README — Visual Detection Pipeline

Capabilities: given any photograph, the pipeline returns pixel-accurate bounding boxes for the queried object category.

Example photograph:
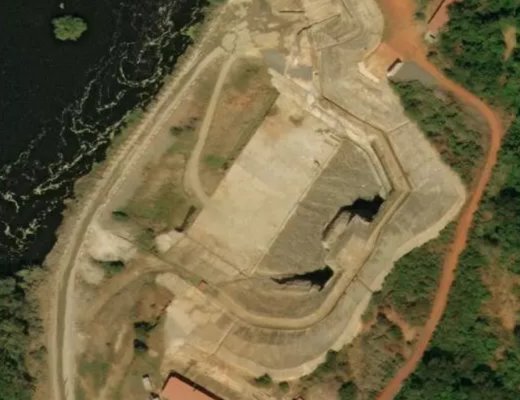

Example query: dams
[28,0,254,400]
